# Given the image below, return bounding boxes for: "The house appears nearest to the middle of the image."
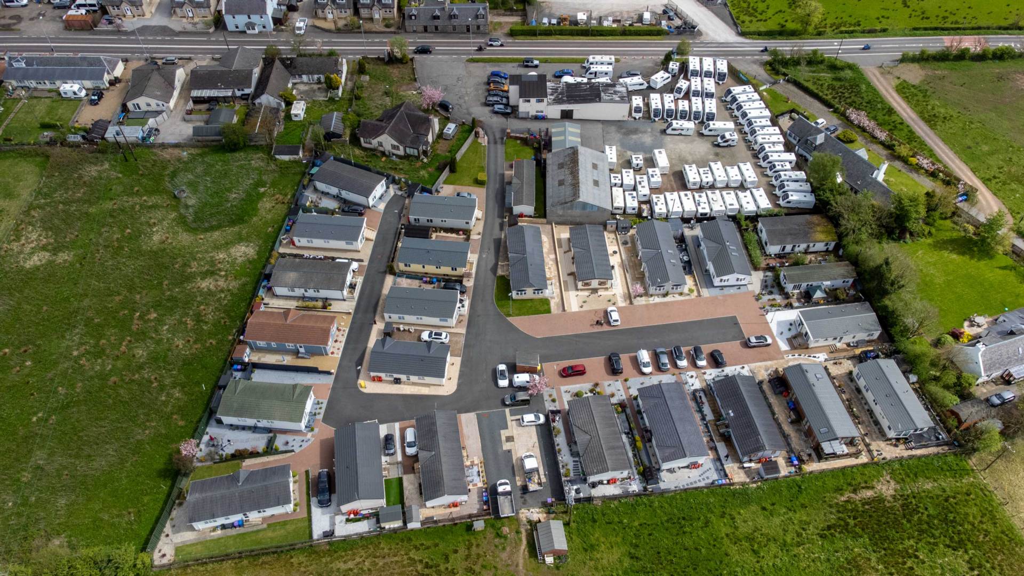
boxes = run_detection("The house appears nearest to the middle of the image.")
[506,222,547,300]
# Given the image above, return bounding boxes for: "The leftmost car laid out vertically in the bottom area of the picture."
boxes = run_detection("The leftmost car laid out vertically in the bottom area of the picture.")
[315,469,331,507]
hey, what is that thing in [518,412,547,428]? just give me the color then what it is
white car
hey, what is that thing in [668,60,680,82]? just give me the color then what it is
white vehicle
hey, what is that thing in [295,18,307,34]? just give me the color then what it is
white vehicle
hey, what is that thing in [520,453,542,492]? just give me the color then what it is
white truck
